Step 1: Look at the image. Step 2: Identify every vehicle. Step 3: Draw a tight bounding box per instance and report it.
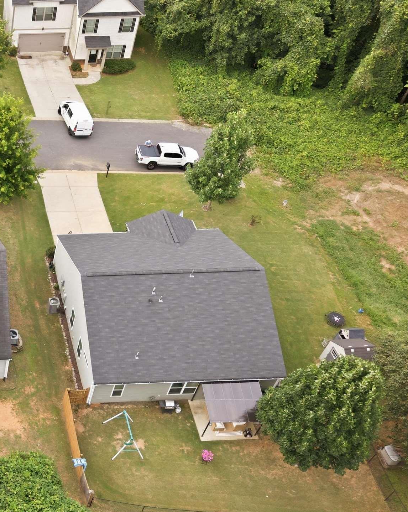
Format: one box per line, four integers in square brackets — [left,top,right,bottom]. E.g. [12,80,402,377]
[137,141,203,171]
[58,102,95,140]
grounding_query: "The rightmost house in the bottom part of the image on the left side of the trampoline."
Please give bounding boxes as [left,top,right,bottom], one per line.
[56,207,297,408]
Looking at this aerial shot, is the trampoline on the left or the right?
right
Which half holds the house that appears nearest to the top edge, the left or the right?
left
